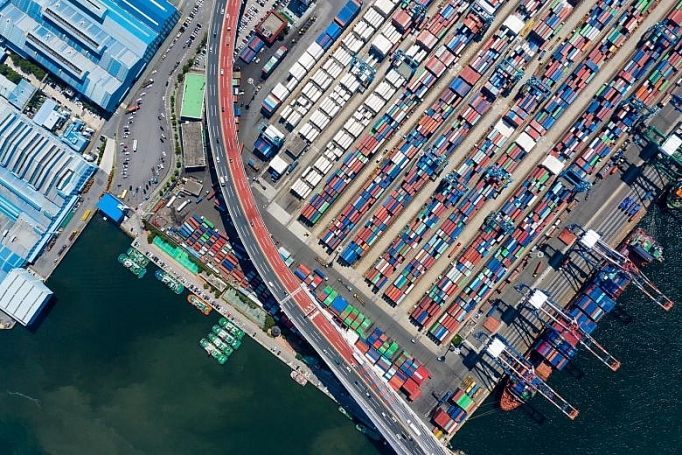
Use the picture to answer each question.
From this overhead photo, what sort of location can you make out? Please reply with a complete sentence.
The picture captures a port.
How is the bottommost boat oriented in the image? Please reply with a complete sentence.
The bottommost boat is laid out diagonally.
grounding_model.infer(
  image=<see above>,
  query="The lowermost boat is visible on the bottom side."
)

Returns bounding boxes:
[355,422,379,442]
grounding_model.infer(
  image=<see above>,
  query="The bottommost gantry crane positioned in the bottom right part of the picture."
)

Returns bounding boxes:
[476,328,577,419]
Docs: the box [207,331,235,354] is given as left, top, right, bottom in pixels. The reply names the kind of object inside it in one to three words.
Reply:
boat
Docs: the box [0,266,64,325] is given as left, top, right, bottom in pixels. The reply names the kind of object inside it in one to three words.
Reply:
shed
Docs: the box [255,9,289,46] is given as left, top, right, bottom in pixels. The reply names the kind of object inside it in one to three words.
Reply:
building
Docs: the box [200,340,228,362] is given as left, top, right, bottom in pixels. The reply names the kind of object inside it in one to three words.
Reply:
boat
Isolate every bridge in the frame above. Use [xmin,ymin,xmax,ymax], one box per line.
[202,0,455,455]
